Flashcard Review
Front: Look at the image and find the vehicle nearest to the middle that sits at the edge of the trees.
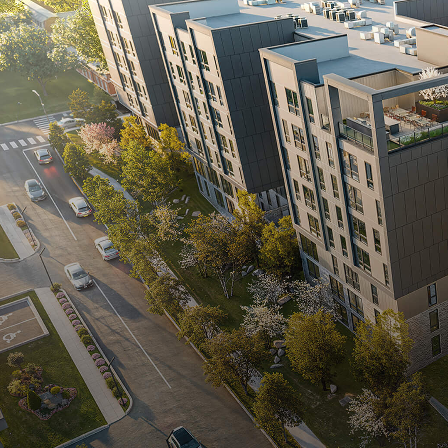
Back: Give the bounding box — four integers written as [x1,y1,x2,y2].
[87,239,116,261]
